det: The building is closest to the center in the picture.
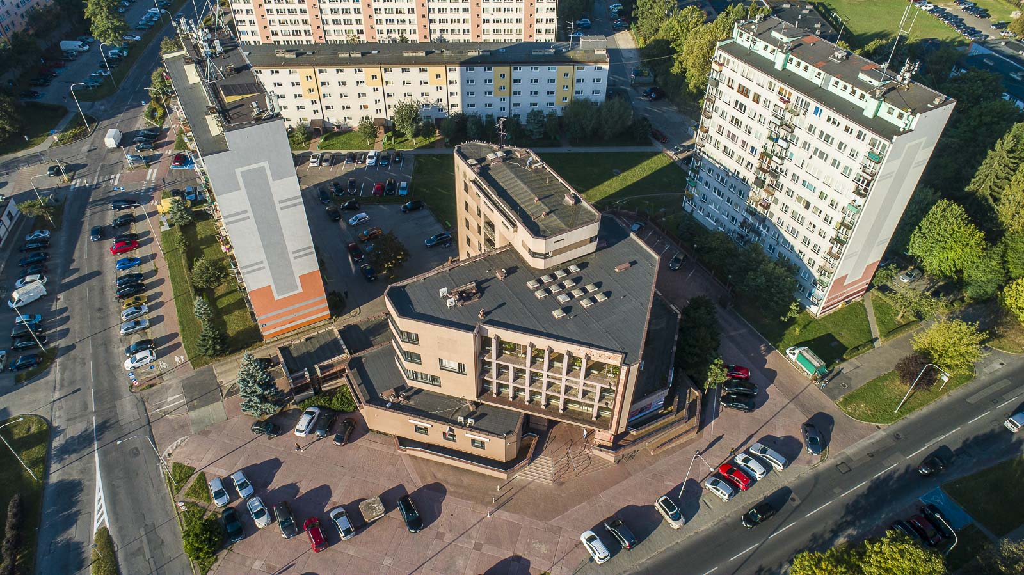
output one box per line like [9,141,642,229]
[337,107,678,463]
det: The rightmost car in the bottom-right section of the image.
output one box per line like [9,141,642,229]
[1003,409,1024,433]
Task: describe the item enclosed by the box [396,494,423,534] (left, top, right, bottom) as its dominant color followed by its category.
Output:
black car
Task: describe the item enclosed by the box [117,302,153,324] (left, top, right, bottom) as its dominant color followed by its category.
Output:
gray car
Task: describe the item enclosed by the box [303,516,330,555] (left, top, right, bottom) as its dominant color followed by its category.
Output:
red car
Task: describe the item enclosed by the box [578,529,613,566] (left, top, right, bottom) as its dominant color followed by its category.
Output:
white car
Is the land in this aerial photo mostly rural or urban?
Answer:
urban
